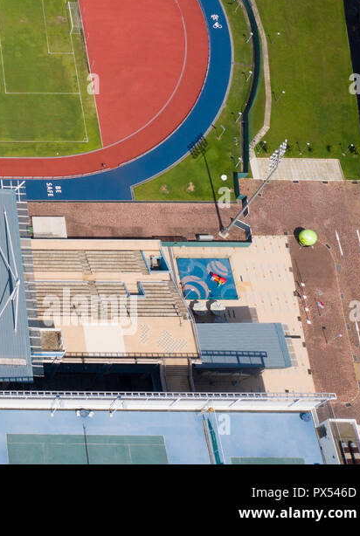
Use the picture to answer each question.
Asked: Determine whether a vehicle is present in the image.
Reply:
No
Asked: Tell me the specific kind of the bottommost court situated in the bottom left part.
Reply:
tennis court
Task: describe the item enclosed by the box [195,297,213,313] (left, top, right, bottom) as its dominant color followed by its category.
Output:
white umbrella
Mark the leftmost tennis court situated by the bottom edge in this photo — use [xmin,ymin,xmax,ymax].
[2,425,187,530]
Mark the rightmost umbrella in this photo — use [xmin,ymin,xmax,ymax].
[214,297,232,313]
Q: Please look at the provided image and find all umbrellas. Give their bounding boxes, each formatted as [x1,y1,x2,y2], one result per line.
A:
[195,297,213,313]
[214,297,232,313]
